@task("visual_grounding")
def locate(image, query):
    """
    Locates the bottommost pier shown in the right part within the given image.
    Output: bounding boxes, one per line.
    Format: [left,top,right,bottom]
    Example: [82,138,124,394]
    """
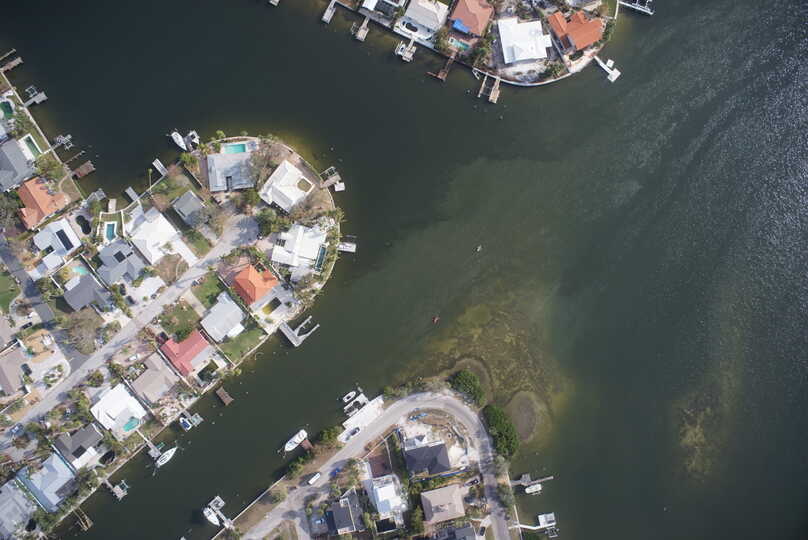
[507,511,559,540]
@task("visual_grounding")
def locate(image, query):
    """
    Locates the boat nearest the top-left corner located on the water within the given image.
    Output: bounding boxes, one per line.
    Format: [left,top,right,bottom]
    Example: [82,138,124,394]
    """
[172,129,189,149]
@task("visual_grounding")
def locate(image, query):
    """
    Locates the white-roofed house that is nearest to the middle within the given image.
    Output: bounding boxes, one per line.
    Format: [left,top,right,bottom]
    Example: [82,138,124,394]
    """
[270,225,328,266]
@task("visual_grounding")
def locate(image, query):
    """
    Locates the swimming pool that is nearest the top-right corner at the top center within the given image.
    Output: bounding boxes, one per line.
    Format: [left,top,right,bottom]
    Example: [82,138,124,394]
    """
[447,36,471,51]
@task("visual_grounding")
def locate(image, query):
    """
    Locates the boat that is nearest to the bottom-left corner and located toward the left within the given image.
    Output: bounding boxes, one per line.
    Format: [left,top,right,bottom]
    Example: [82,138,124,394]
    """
[154,447,178,469]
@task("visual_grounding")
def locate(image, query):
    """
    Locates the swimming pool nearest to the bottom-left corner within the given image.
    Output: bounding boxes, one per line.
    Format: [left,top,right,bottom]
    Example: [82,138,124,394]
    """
[97,448,117,467]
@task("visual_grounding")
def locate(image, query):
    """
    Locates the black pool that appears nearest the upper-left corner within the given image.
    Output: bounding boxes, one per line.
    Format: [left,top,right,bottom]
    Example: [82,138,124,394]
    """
[75,215,92,238]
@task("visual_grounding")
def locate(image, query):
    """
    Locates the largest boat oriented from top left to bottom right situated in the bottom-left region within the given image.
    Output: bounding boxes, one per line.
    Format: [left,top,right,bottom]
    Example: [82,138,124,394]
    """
[202,506,220,525]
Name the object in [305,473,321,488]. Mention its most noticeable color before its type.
white vehicle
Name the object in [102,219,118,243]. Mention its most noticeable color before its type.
white swimming pool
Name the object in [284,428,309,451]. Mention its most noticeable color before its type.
white boat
